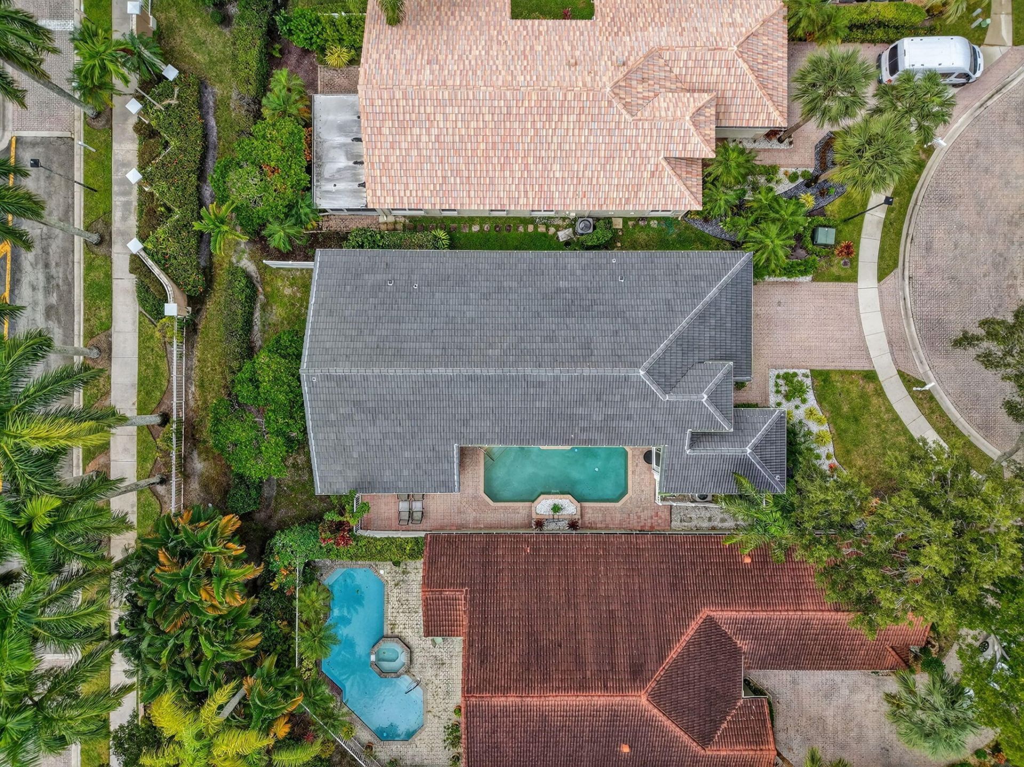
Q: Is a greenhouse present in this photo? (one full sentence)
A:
No, there isn't any greenhouse down there.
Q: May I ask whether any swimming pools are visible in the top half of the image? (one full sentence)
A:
No, no swimming pool appears in the top half of the image.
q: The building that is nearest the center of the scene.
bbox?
[299,248,789,497]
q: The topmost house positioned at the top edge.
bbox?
[358,0,790,225]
